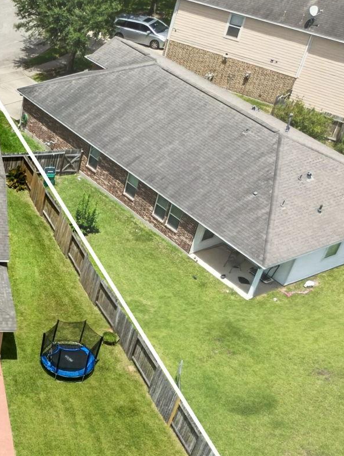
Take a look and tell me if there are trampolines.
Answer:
Yes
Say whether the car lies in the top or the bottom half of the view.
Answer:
top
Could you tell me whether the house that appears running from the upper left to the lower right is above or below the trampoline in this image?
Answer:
above it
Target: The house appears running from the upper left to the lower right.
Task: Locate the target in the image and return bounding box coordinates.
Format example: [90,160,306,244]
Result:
[17,40,344,303]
